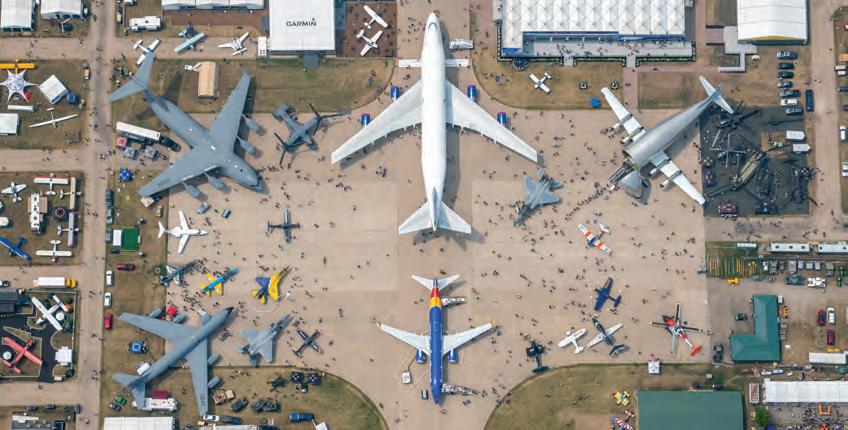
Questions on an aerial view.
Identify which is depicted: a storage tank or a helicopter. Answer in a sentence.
The image shows a helicopter.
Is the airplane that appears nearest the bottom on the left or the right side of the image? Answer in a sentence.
The airplane that appears nearest the bottom sits on the right side.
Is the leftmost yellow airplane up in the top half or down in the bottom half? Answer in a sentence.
The leftmost yellow airplane is in the top half of the image.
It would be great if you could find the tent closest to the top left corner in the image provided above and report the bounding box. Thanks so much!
[1,0,36,31]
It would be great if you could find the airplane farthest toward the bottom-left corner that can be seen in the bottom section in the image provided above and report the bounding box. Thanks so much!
[2,336,43,375]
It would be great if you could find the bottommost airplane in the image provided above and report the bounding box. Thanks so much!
[610,409,634,430]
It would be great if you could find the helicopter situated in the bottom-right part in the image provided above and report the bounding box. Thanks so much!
[650,302,702,355]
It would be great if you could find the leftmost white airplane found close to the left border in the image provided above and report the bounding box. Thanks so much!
[0,181,26,202]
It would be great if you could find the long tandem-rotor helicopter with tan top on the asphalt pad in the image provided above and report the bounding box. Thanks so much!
[709,130,785,201]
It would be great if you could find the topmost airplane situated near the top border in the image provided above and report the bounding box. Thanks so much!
[363,4,389,30]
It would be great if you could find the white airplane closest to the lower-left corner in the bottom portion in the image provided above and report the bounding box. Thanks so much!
[32,296,67,332]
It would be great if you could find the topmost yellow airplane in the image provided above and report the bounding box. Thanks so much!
[0,58,34,80]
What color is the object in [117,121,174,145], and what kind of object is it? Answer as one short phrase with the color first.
white truck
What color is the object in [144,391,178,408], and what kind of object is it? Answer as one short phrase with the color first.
white camper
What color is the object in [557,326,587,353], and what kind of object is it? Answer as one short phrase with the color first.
white airplane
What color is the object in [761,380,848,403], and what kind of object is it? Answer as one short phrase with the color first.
white tent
